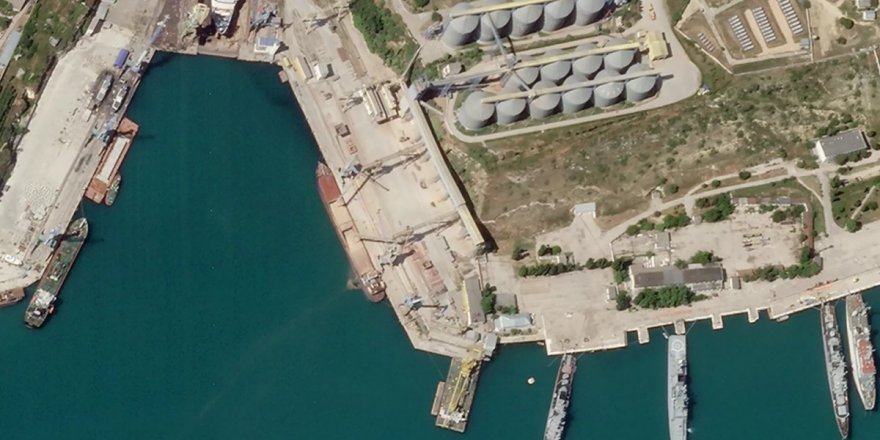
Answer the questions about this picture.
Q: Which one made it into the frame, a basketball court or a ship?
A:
ship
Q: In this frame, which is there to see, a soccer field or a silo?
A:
silo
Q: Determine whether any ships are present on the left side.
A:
Yes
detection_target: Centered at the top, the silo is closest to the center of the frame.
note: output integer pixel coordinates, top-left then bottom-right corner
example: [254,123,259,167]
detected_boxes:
[460,92,495,130]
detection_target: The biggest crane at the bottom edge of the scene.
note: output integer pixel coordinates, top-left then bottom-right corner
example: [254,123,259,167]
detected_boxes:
[436,358,481,432]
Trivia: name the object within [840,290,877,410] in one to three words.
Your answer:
ship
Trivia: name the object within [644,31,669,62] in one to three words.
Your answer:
shed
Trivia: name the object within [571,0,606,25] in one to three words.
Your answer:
silo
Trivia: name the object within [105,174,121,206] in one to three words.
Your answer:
boat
